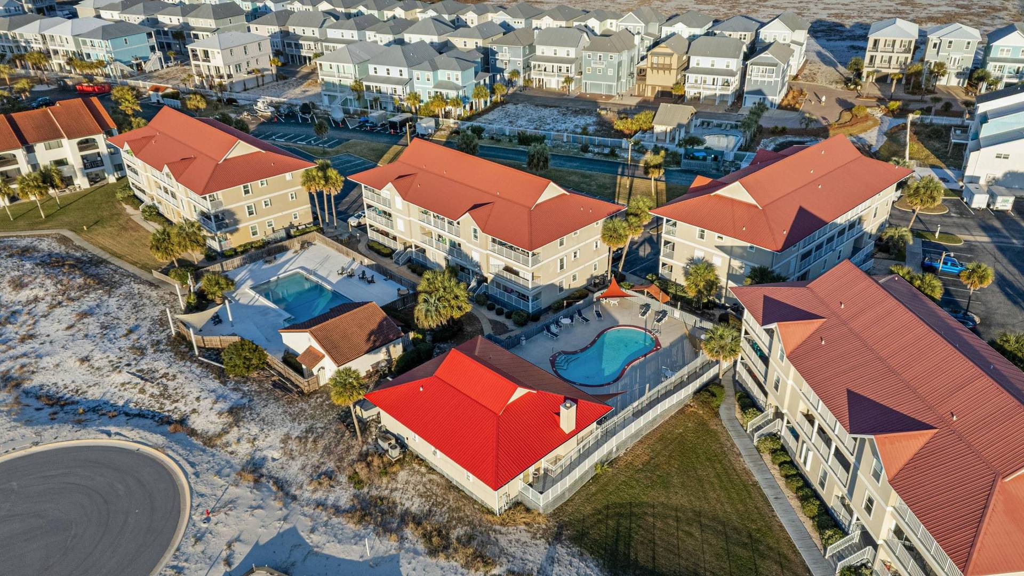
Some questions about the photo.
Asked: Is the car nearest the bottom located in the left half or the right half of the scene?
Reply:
right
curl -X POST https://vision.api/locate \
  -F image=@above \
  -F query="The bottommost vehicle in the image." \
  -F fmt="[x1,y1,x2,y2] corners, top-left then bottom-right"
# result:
[946,308,983,330]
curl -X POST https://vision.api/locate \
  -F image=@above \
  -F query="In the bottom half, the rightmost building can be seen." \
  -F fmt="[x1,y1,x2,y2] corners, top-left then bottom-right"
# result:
[730,259,1024,576]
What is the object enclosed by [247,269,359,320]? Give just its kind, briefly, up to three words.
swimming pool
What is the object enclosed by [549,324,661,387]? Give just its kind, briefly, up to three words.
swimming pool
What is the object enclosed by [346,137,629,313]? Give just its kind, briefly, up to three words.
building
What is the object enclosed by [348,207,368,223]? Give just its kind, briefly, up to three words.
car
